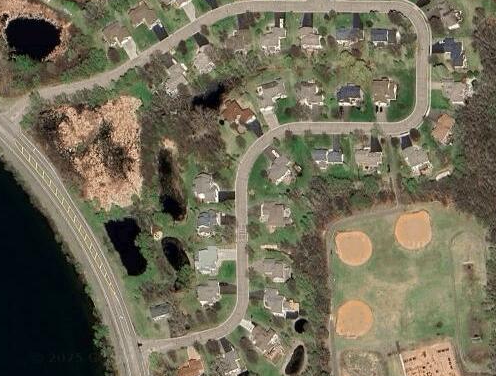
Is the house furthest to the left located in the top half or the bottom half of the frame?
top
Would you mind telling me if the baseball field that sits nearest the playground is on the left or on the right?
right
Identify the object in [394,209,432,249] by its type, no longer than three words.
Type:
baseball field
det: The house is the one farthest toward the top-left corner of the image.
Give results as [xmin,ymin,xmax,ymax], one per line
[102,20,134,47]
